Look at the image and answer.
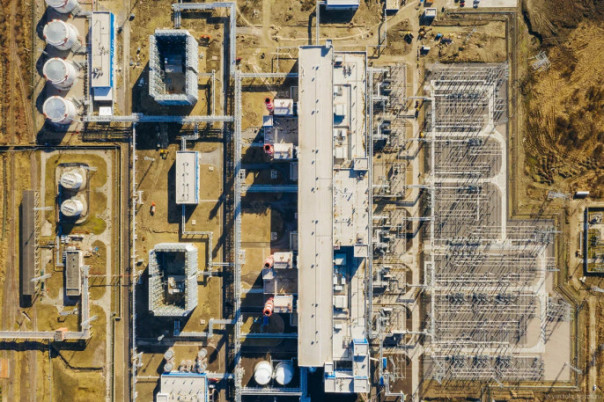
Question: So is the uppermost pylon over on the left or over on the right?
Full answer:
The uppermost pylon sits on the right side.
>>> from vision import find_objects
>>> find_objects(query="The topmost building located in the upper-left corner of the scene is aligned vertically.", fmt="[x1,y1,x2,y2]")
[92,12,116,91]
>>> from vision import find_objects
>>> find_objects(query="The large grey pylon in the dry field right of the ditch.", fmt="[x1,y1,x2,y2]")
[527,53,551,73]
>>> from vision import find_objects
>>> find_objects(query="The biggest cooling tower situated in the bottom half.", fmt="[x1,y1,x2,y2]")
[149,243,199,317]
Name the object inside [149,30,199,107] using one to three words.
cooling tower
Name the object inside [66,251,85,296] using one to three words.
building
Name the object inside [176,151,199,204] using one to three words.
building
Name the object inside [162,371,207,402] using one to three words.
house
